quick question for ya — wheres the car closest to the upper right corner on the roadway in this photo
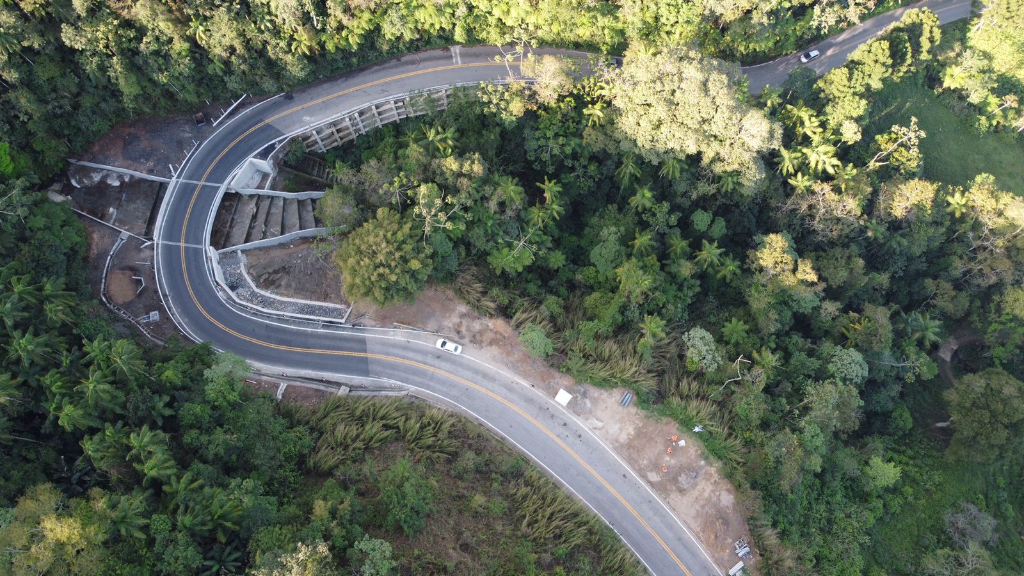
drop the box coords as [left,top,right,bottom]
[801,47,821,62]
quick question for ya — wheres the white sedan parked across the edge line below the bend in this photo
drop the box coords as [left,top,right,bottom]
[435,338,462,354]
